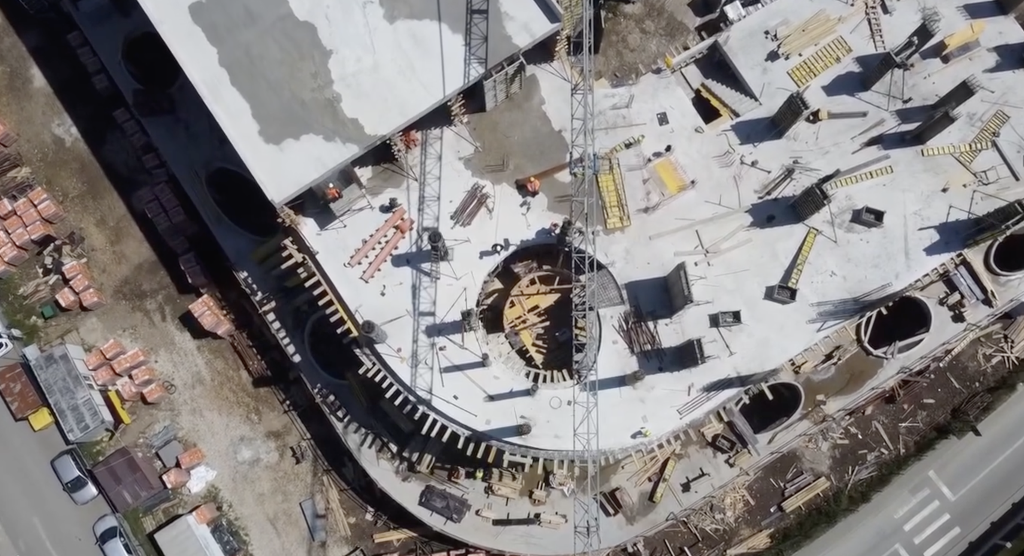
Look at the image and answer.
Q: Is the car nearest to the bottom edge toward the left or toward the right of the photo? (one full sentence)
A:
The car nearest to the bottom edge appears in the left half of the scene.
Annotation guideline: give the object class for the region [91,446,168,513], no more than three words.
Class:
shed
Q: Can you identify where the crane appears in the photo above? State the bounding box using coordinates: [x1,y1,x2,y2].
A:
[571,0,600,556]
